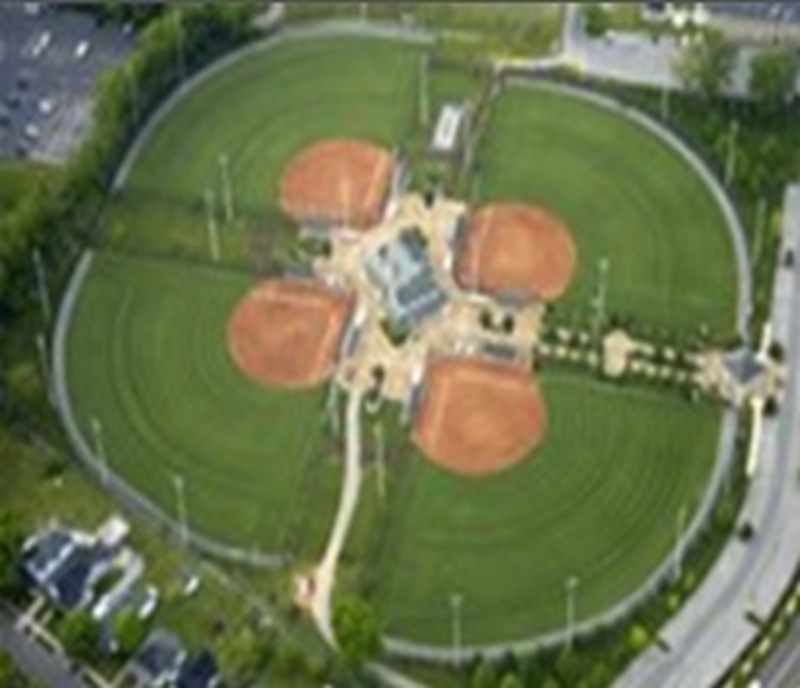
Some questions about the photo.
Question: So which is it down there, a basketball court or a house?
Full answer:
Of the two, only a house appears.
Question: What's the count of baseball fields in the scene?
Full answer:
There are 4 baseball fields in the image.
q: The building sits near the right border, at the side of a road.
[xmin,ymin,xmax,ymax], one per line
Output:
[722,347,766,389]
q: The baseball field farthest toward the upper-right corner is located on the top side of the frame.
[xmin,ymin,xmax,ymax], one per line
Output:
[452,75,751,344]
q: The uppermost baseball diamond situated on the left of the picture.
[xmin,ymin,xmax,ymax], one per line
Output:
[113,22,438,230]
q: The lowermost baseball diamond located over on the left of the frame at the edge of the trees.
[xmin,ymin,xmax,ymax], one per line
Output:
[52,251,356,565]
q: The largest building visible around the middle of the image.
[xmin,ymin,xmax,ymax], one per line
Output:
[359,228,451,330]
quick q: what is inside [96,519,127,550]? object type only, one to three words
building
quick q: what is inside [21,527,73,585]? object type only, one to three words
house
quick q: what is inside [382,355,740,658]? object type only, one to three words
baseball field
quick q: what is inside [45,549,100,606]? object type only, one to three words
house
